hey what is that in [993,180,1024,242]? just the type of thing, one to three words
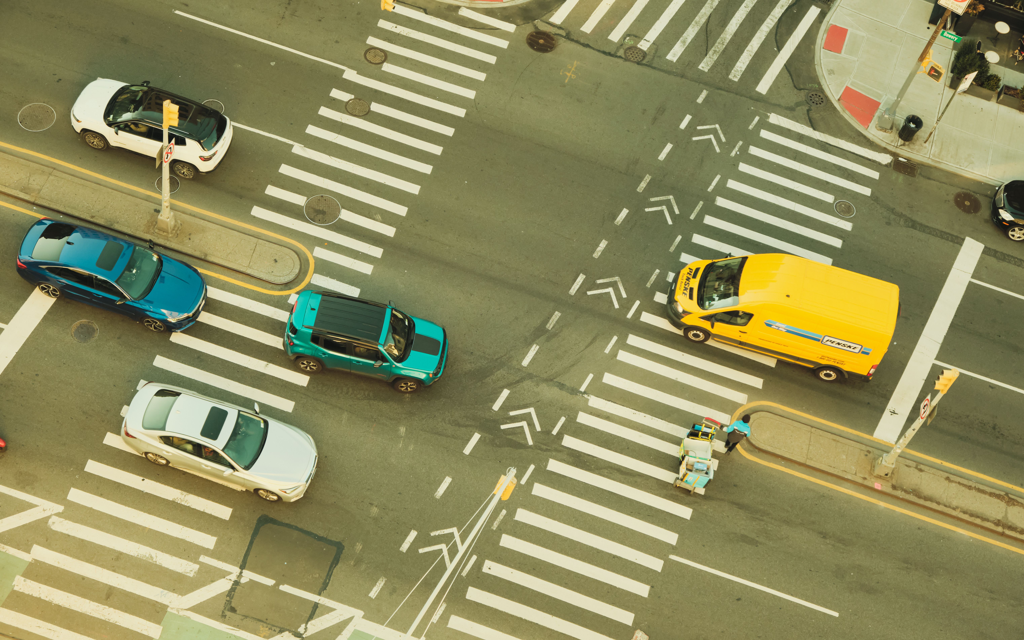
car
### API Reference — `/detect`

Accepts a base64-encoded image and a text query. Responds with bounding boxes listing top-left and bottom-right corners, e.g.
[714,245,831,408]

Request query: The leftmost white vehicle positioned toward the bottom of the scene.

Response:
[123,382,324,503]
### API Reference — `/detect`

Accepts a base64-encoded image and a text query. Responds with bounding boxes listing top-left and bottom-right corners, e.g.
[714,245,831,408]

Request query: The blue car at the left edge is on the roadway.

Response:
[15,217,209,333]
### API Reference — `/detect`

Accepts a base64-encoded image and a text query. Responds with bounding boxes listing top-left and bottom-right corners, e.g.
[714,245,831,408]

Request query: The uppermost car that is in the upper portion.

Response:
[72,77,235,180]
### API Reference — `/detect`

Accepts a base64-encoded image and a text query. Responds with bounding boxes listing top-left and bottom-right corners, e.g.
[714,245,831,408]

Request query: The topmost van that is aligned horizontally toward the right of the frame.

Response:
[670,250,899,383]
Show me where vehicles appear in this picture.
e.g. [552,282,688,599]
[670,250,899,383]
[15,217,209,333]
[281,287,448,394]
[72,77,235,180]
[993,180,1024,242]
[123,382,324,503]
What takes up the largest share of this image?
paved ground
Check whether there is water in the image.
No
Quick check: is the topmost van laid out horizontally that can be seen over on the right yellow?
Yes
